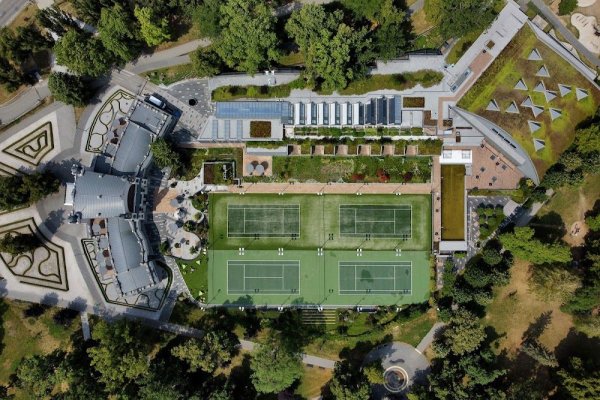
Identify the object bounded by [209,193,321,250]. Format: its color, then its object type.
green tennis court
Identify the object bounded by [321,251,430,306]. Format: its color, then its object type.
green tennis court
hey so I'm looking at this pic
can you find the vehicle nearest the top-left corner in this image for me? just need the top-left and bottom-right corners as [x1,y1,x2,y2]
[148,95,168,111]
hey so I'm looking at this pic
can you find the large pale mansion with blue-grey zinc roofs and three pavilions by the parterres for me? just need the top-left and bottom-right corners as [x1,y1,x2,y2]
[62,100,180,295]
